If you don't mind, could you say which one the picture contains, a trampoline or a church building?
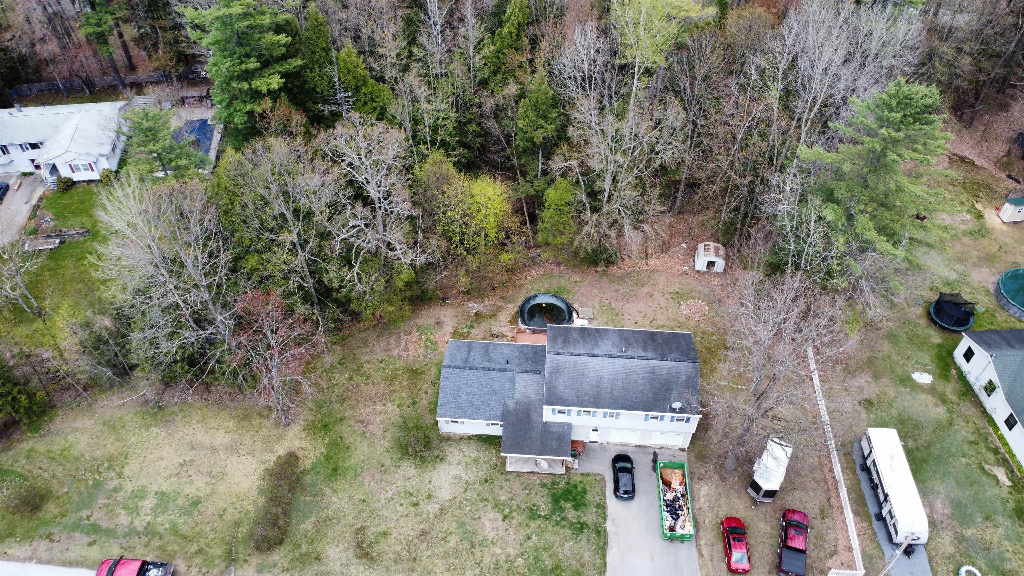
trampoline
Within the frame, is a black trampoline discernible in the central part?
No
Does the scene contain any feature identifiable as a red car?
Yes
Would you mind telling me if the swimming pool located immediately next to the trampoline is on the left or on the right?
right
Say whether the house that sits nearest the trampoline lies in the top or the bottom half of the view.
bottom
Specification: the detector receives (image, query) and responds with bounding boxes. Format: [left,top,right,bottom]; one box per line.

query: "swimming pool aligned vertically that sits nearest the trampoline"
[993,265,1024,330]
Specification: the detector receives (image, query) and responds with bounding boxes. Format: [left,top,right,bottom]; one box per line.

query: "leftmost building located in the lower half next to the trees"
[435,322,704,478]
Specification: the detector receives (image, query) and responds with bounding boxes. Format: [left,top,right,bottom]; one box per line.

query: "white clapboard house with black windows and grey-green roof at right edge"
[952,331,1024,459]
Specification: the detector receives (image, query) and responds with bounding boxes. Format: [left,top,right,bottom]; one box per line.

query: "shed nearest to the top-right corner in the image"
[985,193,1024,222]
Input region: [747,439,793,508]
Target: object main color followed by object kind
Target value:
white trailer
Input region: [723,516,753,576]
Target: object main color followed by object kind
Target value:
red car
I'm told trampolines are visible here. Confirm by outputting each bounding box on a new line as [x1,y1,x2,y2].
[924,287,981,337]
